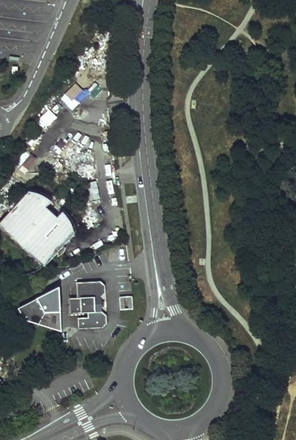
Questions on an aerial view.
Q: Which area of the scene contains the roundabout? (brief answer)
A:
bottom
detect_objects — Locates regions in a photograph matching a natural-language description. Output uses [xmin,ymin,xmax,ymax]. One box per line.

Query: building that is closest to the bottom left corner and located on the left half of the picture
[18,288,61,332]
